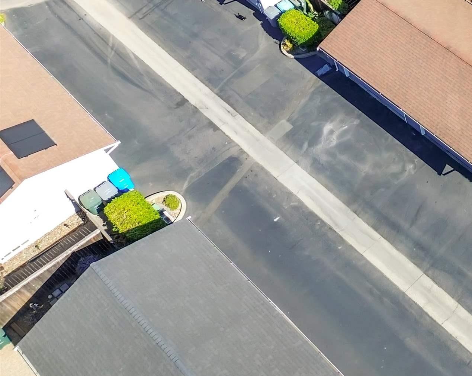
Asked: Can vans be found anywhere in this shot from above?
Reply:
No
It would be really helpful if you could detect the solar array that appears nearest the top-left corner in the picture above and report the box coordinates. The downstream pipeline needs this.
[0,114,55,155]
